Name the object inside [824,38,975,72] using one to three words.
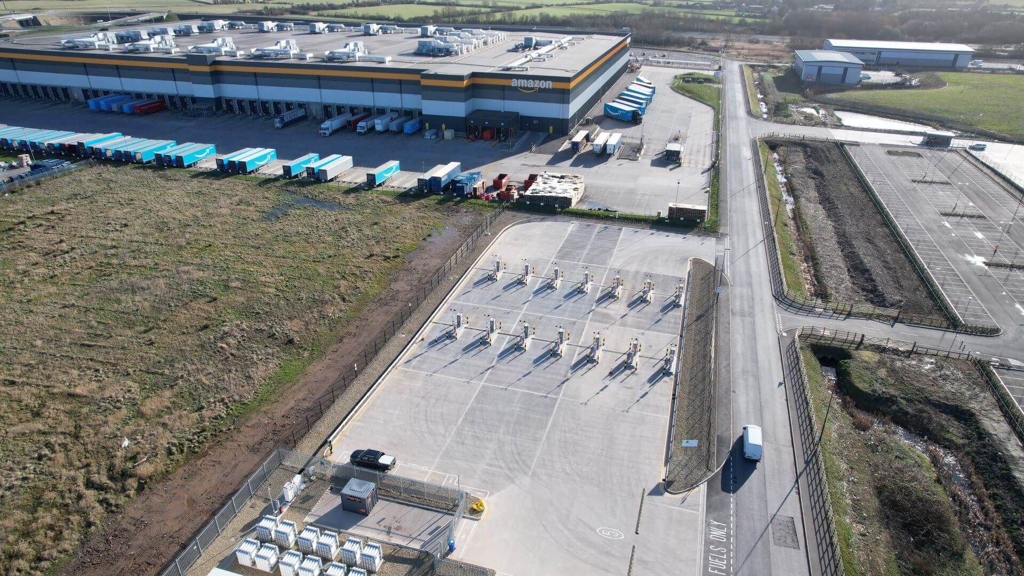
shed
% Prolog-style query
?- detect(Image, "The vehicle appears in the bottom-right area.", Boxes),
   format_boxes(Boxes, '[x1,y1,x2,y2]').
[743,425,763,459]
